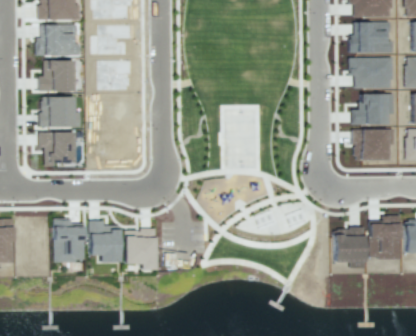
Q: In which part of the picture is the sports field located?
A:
top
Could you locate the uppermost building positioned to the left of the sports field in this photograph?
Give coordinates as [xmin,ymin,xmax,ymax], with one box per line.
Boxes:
[38,0,80,19]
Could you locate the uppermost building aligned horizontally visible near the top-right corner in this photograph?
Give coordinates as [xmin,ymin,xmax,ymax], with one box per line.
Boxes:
[352,0,394,18]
